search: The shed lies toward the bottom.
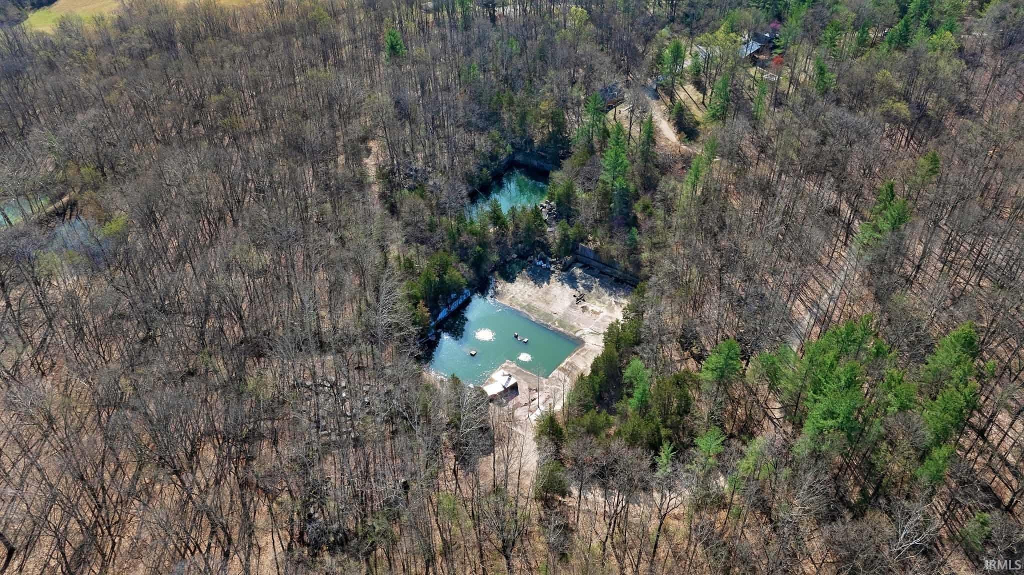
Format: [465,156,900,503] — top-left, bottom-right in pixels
[483,370,516,401]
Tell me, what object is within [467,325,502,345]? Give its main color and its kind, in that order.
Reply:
white fountain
